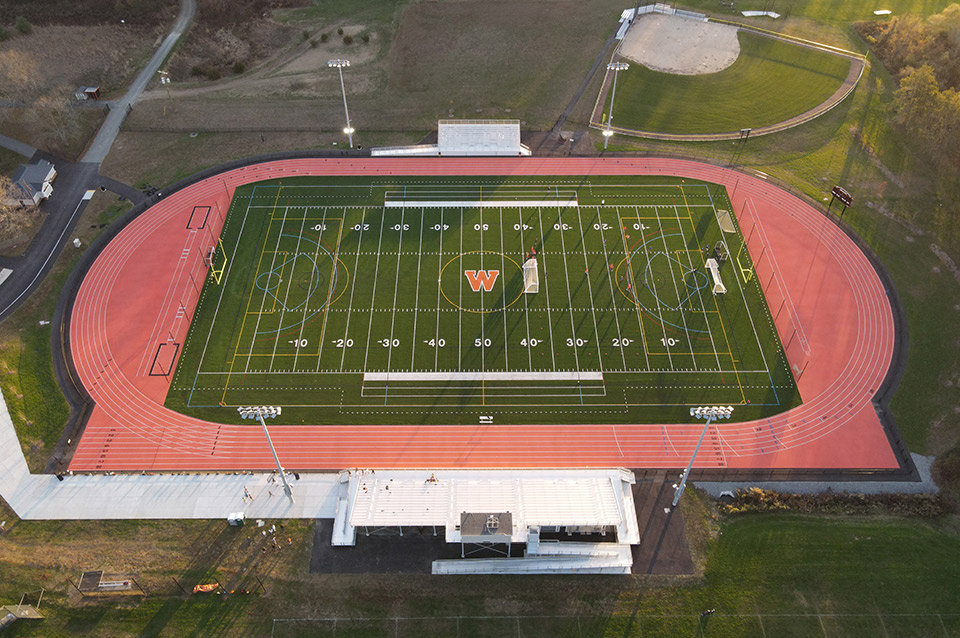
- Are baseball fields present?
Yes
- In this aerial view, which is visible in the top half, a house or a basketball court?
house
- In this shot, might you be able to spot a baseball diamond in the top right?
Yes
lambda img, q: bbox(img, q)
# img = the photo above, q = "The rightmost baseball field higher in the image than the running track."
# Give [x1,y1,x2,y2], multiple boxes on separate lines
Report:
[591,14,865,141]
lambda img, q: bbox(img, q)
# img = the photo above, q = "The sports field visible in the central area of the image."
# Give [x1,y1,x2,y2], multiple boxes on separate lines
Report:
[163,174,802,425]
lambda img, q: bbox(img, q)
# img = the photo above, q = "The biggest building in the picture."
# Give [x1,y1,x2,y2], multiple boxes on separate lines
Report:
[3,156,64,212]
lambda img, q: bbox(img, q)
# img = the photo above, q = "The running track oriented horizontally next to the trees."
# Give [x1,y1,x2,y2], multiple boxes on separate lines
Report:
[68,156,899,471]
